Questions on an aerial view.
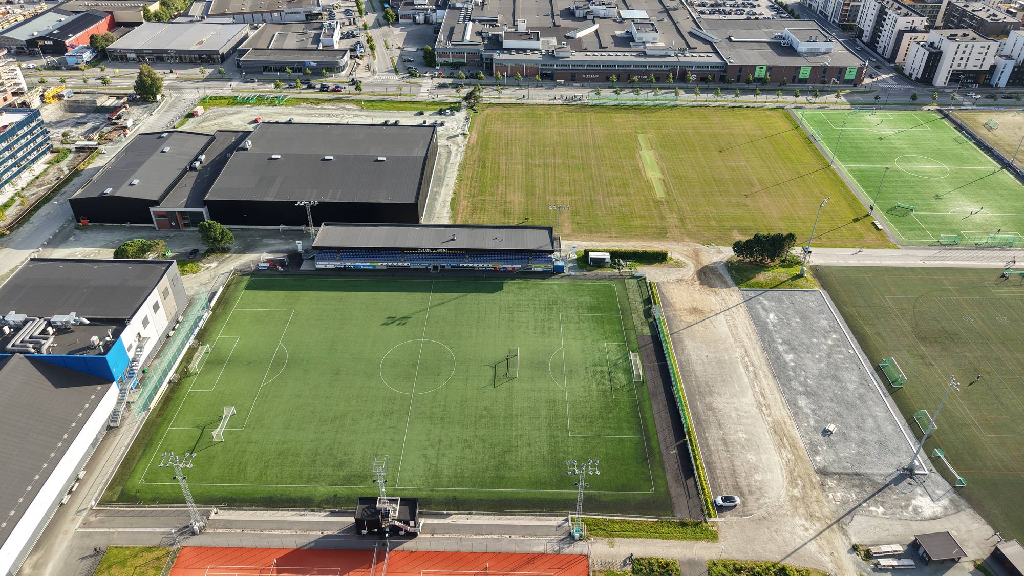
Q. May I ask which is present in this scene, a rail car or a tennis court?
tennis court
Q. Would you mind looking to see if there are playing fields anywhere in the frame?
Yes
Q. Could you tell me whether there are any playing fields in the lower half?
Yes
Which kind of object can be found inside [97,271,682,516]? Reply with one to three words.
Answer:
sports field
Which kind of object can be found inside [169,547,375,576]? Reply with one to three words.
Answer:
tennis court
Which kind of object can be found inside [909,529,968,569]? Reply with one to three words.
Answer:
building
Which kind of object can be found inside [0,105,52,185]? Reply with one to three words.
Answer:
house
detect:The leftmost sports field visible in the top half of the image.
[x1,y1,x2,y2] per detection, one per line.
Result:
[451,105,895,247]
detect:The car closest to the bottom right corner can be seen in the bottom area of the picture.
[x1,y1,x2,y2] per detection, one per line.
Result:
[717,498,743,510]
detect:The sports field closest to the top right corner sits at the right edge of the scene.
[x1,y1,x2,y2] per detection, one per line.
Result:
[793,110,1024,248]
